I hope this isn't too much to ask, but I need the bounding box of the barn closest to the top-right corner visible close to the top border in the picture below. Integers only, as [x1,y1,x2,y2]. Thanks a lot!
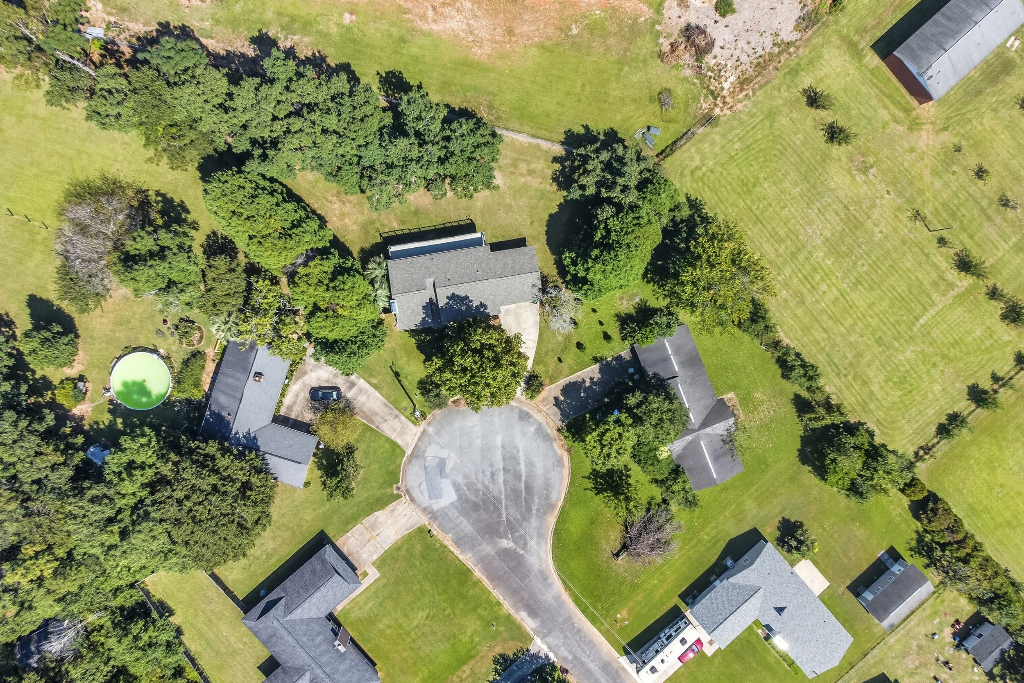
[887,0,1024,103]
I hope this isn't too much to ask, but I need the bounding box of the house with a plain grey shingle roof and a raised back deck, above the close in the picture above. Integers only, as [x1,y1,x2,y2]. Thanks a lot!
[386,231,540,331]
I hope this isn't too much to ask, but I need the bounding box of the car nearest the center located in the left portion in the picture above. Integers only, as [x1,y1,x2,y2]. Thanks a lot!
[309,387,341,402]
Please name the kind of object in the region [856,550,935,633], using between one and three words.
shed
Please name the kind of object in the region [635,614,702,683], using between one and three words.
camper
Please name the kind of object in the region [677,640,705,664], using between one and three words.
car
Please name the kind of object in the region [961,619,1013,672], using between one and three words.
shed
